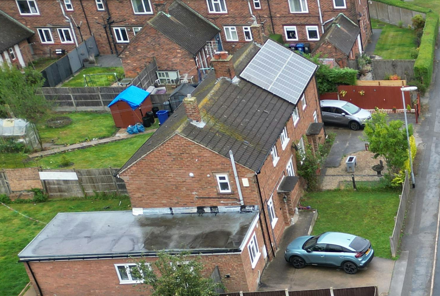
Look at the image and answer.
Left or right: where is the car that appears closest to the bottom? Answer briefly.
right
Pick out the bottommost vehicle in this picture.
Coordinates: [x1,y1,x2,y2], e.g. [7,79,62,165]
[284,226,378,272]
